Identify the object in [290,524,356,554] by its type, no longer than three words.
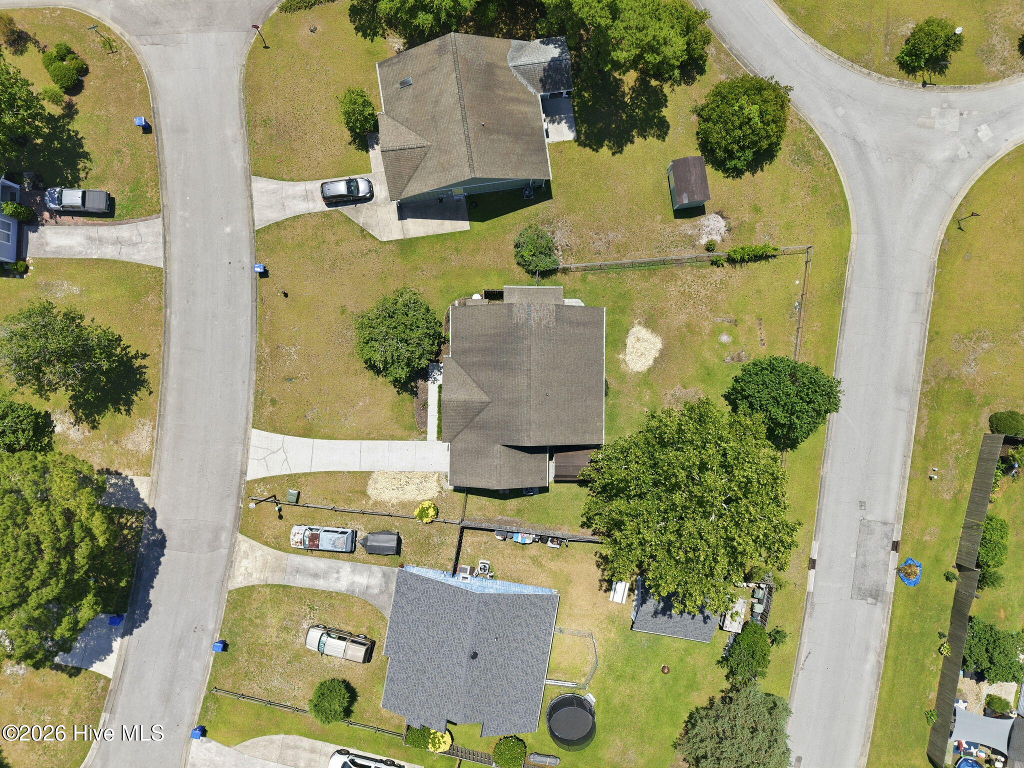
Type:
car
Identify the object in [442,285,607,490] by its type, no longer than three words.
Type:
house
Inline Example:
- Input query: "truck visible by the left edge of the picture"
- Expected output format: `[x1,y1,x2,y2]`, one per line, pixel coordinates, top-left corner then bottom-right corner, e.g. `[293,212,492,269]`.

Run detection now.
[45,185,116,214]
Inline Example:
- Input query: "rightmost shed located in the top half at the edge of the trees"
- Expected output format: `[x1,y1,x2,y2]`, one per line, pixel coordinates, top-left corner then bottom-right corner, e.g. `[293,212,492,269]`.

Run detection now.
[668,156,710,210]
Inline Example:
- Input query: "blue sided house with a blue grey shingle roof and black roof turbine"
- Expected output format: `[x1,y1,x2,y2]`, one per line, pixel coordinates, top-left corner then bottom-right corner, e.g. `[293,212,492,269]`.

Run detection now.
[381,566,559,737]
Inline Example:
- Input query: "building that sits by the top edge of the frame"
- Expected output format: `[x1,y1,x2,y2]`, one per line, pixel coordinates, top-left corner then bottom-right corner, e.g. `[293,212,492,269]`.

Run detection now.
[376,33,579,206]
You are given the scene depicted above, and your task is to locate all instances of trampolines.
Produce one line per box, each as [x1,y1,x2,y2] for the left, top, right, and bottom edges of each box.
[545,691,598,754]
